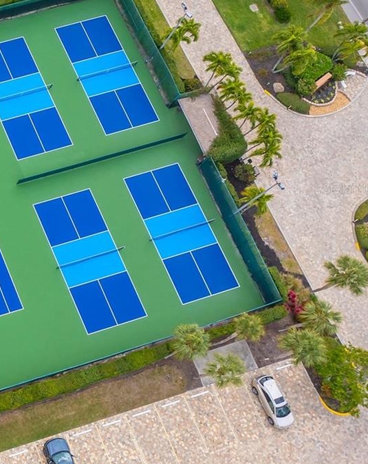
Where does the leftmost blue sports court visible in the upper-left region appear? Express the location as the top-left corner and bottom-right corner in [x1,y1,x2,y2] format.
[0,37,73,160]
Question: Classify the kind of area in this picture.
sports ground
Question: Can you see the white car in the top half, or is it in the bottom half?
bottom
